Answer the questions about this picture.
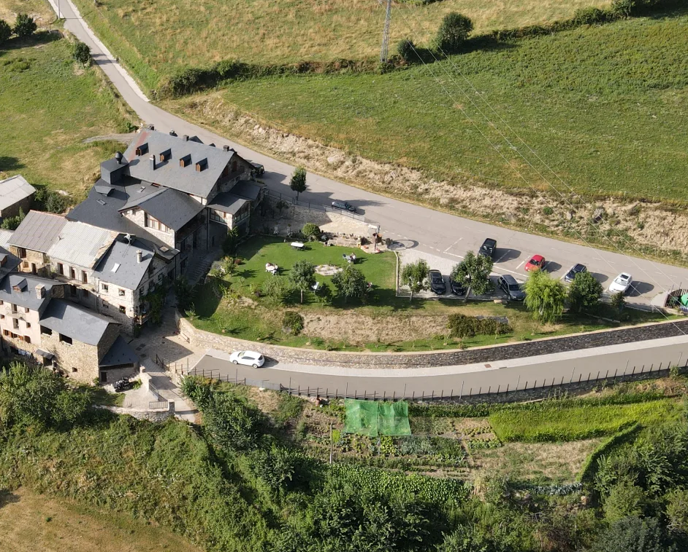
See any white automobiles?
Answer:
Yes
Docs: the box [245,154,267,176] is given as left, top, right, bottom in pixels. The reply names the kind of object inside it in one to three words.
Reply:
car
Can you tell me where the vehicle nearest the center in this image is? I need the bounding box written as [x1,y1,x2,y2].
[330,195,361,213]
